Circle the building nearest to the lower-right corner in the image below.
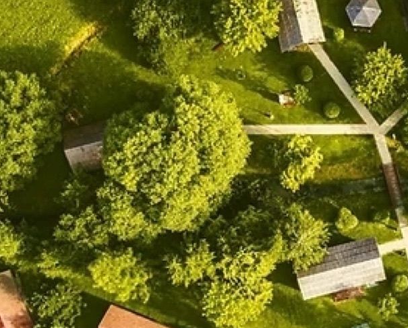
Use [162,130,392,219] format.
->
[294,237,386,300]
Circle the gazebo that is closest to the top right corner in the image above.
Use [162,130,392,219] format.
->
[346,0,382,33]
